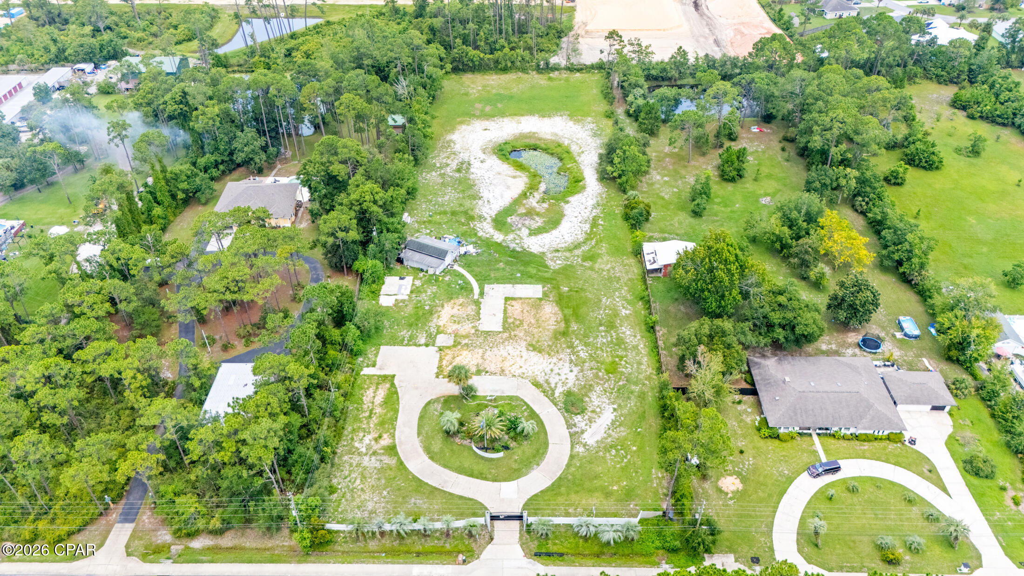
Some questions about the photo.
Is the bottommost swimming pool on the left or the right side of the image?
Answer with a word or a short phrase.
right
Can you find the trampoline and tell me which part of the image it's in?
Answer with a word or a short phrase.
right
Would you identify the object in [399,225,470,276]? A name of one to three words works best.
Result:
building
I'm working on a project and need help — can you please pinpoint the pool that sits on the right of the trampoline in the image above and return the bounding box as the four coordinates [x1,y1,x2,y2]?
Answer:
[898,317,920,339]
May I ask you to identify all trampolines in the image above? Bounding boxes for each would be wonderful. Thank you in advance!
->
[859,331,882,354]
